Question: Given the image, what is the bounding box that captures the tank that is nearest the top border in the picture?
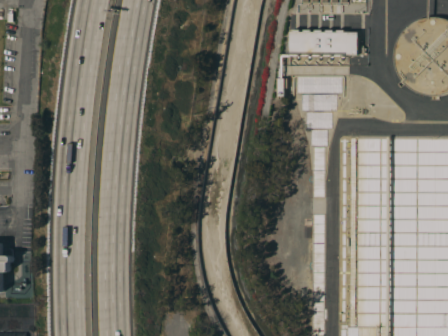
[393,19,448,97]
